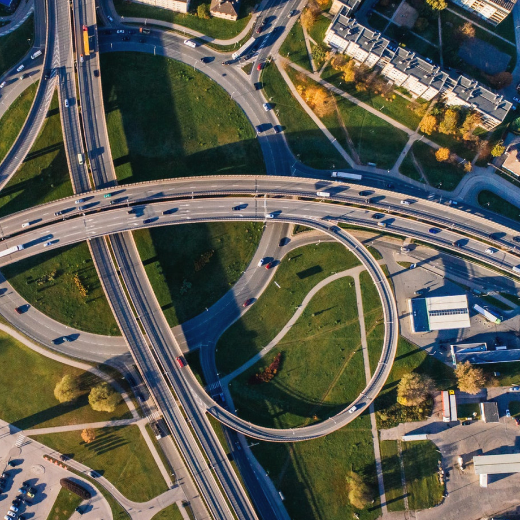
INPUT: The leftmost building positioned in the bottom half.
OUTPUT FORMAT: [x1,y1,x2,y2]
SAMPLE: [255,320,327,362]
[409,298,429,333]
